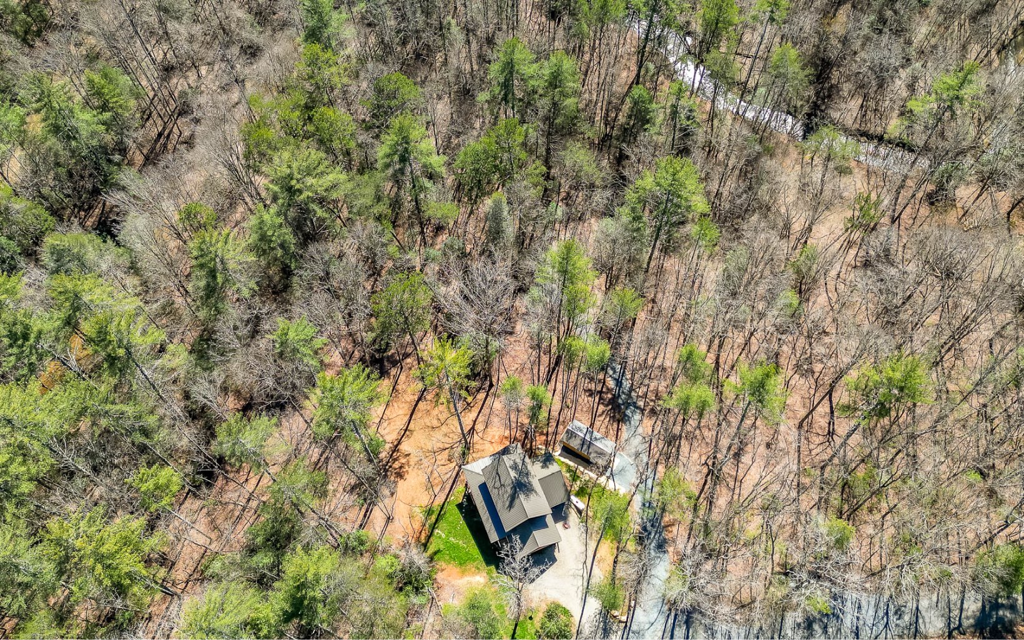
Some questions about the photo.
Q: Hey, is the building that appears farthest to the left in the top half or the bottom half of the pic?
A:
bottom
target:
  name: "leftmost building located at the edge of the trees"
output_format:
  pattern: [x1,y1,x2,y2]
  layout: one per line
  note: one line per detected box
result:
[462,444,571,563]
